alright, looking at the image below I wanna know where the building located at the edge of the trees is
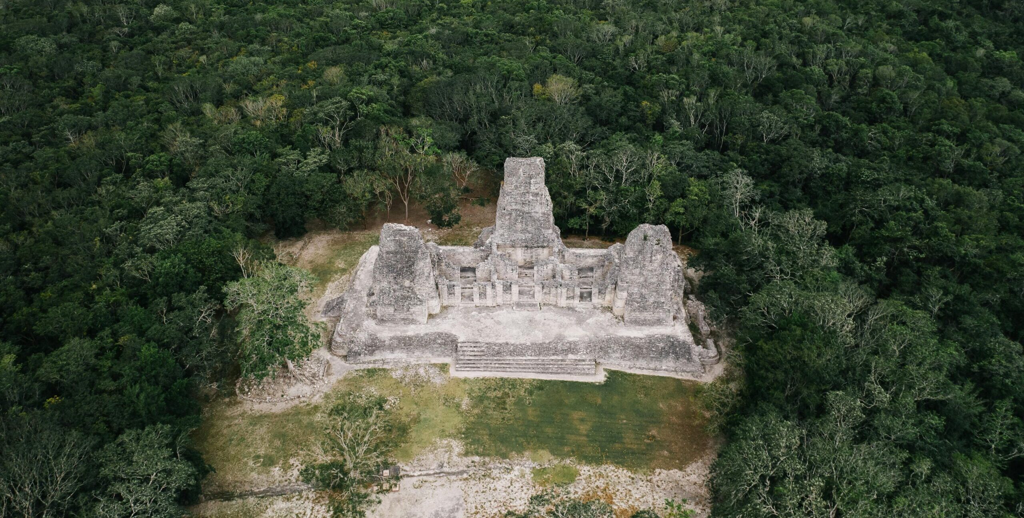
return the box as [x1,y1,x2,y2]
[322,159,705,379]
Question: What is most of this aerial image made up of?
trees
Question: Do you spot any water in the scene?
No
